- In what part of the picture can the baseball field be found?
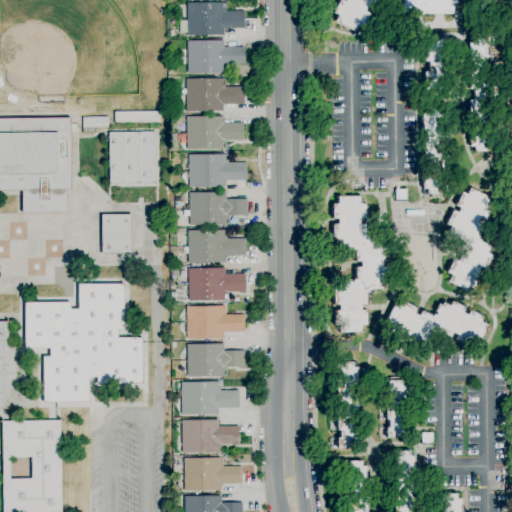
top left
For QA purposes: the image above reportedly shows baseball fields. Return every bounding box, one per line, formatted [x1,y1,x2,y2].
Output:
[0,0,138,94]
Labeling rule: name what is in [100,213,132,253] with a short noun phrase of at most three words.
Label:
building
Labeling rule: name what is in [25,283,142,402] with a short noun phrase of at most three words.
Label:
building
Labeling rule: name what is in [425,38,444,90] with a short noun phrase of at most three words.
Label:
house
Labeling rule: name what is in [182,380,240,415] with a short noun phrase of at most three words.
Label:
house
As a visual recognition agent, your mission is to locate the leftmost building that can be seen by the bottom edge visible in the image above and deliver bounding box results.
[2,420,62,512]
